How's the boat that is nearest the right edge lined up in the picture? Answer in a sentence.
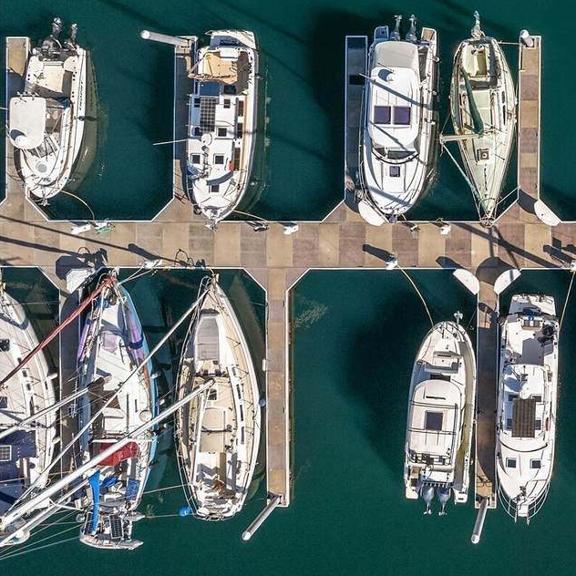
In this picture, the boat that is nearest the right edge is oriented from top to bottom.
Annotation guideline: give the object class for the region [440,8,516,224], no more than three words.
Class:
boat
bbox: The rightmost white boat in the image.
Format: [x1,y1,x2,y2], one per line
[495,294,559,519]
